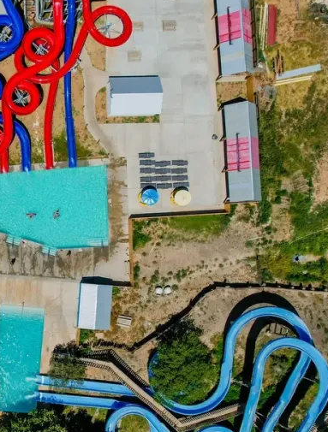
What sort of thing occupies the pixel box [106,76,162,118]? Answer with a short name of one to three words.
shed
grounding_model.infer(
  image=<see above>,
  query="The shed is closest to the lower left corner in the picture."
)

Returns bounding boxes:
[76,283,112,330]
